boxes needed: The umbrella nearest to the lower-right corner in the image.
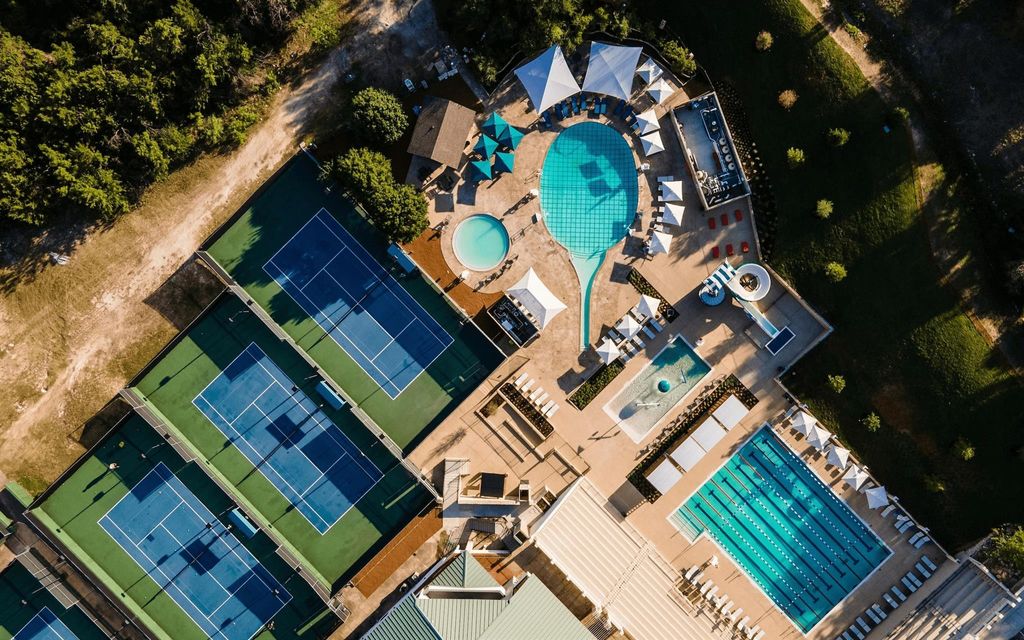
[866,487,888,508]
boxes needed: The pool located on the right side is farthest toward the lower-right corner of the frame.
[664,421,897,638]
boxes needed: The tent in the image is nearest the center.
[506,266,568,330]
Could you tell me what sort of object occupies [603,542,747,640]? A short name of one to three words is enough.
building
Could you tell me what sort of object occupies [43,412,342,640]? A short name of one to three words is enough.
tennis court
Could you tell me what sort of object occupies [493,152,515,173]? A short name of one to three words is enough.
umbrella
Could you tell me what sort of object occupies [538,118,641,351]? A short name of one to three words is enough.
swimming pool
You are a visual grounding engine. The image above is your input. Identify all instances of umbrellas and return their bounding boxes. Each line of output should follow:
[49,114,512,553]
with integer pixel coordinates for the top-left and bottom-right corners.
[650,231,672,254]
[663,204,684,225]
[481,112,508,139]
[637,59,663,85]
[791,411,817,436]
[641,132,664,154]
[843,464,868,490]
[866,487,888,508]
[636,294,660,319]
[493,152,515,173]
[636,109,660,133]
[616,315,642,341]
[826,444,850,468]
[471,161,490,180]
[498,124,524,150]
[663,181,682,201]
[647,78,674,104]
[473,134,499,160]
[807,425,832,450]
[595,339,621,365]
